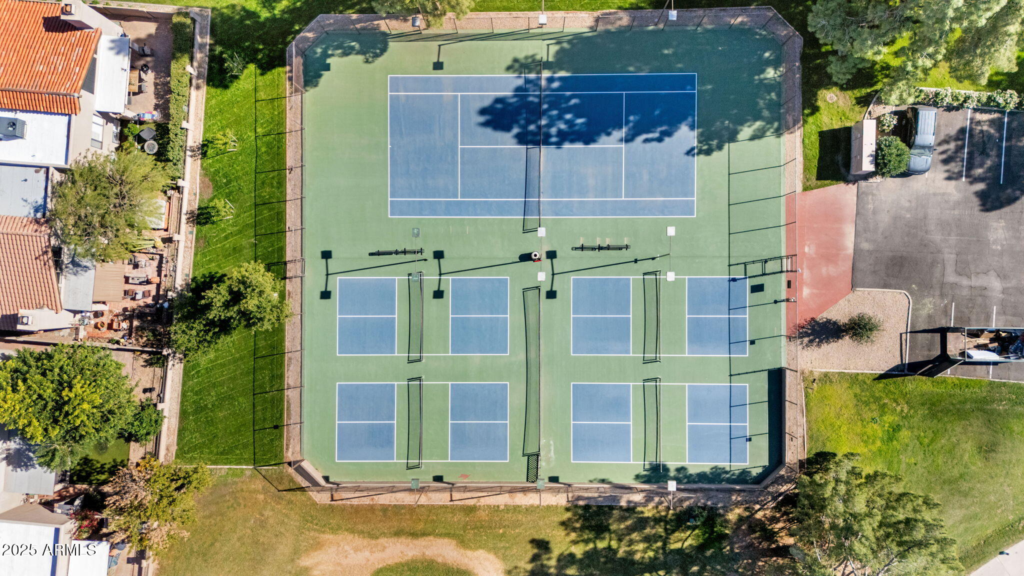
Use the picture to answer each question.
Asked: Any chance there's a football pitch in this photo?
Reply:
No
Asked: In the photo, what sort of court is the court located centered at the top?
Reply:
tennis court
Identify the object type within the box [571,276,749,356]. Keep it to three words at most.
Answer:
sports court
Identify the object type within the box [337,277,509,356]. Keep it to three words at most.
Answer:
sports court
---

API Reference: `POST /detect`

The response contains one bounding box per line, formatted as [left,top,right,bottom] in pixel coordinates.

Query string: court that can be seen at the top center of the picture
[389,73,697,217]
